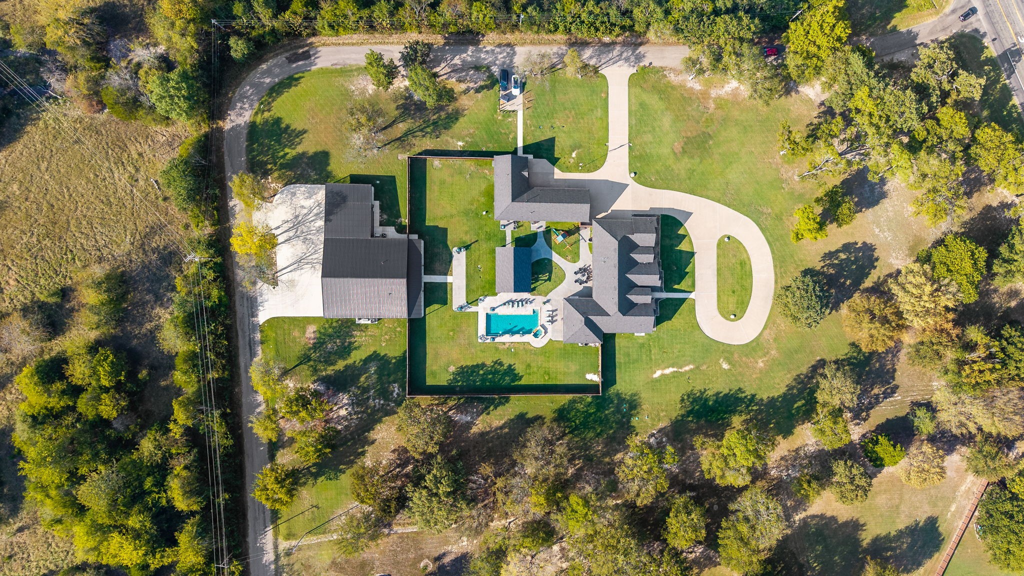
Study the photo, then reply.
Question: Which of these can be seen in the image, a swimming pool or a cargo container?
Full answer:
This aerial view contains a swimming pool.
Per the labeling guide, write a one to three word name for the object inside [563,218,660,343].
house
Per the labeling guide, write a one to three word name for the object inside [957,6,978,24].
car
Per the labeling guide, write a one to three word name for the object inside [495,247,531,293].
building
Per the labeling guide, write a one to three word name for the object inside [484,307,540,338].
swimming pool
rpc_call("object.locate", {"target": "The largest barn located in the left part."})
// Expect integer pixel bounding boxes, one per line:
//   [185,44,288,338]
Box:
[321,184,424,318]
